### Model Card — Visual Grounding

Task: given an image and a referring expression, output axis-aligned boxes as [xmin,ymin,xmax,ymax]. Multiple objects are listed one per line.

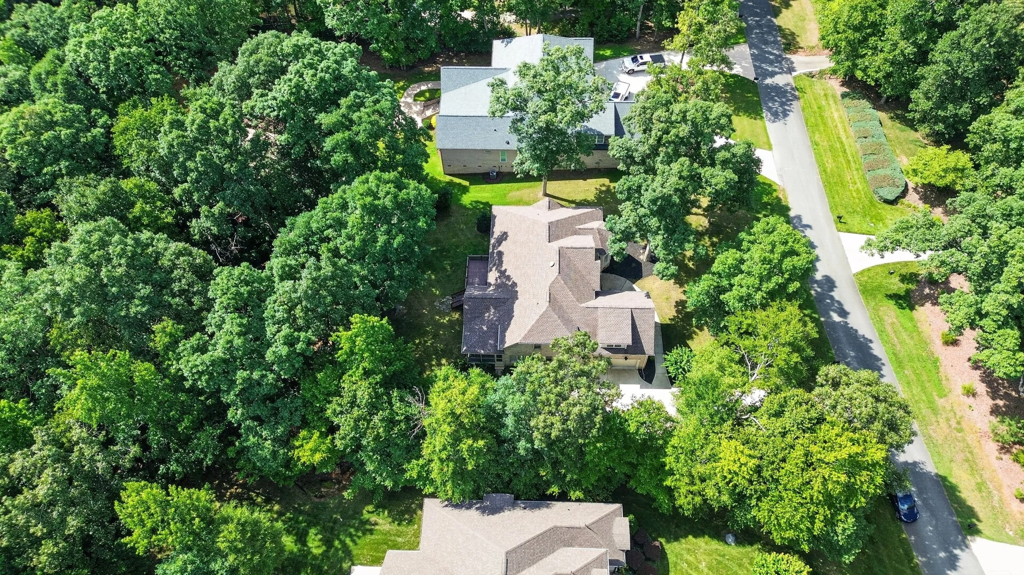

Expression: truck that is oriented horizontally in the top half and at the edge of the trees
[622,49,669,73]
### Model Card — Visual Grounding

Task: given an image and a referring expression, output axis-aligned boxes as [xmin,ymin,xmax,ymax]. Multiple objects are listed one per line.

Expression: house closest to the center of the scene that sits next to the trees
[461,198,655,377]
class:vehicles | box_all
[622,49,669,73]
[607,74,633,100]
[895,479,923,522]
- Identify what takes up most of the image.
trees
